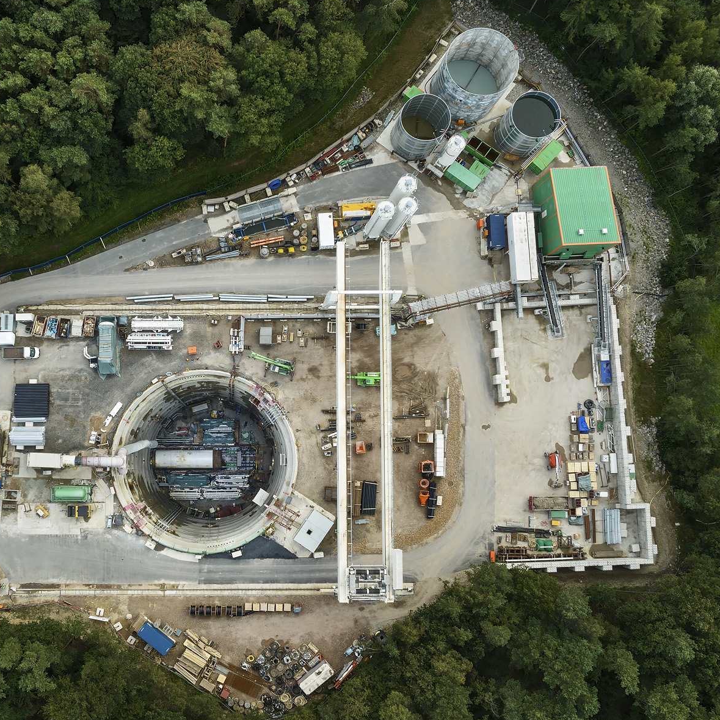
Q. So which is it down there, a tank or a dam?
tank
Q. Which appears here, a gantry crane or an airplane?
gantry crane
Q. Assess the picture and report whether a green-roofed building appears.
Yes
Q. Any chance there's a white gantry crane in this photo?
Yes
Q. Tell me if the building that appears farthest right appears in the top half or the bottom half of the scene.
top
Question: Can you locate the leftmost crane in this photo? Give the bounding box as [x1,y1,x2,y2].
[247,349,298,386]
